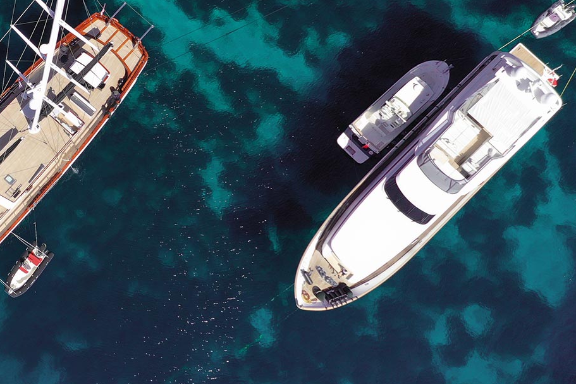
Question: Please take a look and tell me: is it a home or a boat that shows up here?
boat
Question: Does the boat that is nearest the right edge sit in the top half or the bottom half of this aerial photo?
top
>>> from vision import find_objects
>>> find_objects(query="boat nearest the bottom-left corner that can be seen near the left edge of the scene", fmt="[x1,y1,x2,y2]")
[4,242,55,299]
